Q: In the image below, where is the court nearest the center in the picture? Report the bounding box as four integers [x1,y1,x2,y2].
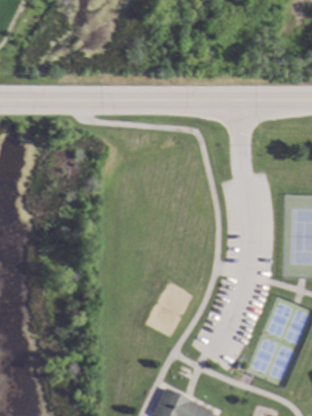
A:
[158,282,193,318]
